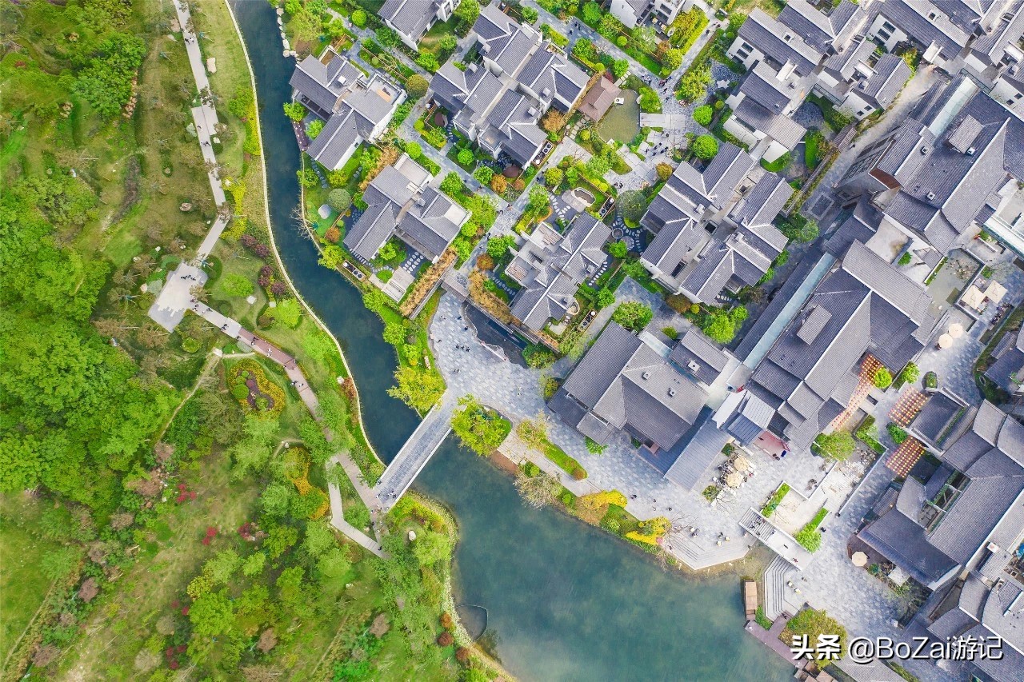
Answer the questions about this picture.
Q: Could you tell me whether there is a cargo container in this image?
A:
No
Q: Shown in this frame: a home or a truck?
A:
home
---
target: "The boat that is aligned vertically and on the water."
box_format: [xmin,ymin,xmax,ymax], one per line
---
[743,575,757,620]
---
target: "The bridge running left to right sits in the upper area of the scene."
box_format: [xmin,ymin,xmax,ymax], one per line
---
[639,113,685,130]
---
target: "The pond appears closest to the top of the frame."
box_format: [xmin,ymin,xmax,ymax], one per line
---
[596,90,640,147]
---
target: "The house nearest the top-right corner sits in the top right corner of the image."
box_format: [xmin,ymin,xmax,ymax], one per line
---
[867,0,1024,98]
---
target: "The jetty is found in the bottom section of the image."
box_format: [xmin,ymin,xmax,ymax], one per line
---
[745,611,805,668]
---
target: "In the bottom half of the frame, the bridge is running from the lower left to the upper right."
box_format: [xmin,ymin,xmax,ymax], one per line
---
[372,397,455,512]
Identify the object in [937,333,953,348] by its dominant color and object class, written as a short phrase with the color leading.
white umbrella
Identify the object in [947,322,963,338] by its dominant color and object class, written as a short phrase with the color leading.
white umbrella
